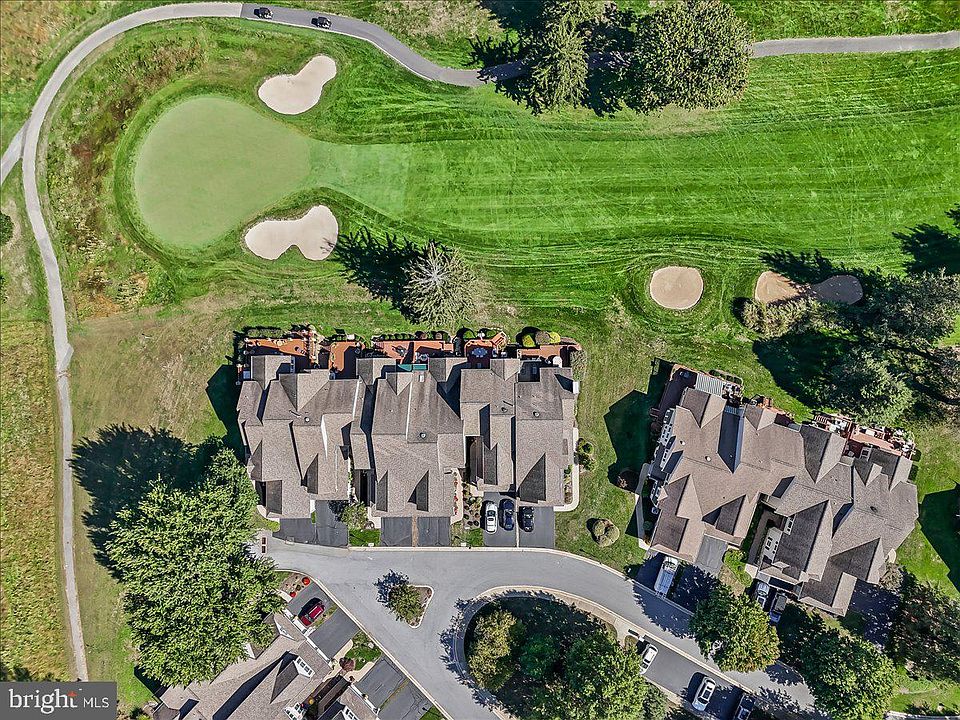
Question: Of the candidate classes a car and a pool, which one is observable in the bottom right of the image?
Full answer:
What appears in the bottom right of the image is a car.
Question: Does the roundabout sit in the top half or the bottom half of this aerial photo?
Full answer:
The roundabout sits in the bottom half of the picture.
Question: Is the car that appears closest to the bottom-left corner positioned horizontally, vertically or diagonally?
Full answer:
Seen from above, the car that appears closest to the bottom-left corner lies diagonally.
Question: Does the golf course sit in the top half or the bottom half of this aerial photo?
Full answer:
The golf course is in the top half of the image.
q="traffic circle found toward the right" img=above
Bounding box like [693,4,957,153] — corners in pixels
[456,585,714,720]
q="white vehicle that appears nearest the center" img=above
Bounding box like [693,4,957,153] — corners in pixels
[484,501,500,533]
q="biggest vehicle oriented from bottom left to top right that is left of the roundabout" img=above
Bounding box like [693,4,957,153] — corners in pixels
[300,598,330,627]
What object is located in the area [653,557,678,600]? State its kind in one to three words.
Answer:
vehicle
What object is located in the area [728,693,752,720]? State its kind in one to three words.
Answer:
car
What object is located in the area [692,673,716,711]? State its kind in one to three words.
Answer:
car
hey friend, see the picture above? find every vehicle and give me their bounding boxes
[653,557,678,600]
[520,506,536,532]
[501,498,517,532]
[638,642,660,676]
[728,693,752,720]
[768,588,789,625]
[313,15,334,32]
[692,673,716,711]
[300,598,330,627]
[255,6,276,22]
[484,501,500,533]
